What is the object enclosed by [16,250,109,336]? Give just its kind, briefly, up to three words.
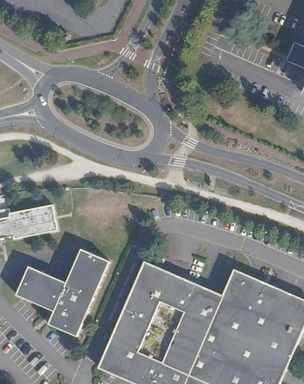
building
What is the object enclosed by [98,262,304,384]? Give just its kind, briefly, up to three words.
building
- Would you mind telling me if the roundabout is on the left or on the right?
left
